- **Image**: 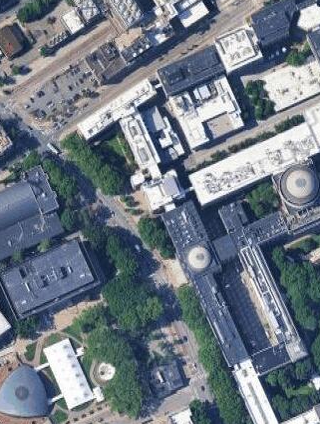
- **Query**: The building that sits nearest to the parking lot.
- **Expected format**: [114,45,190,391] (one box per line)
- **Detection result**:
[86,41,126,86]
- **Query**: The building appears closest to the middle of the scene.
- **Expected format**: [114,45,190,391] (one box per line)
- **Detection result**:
[131,169,185,212]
